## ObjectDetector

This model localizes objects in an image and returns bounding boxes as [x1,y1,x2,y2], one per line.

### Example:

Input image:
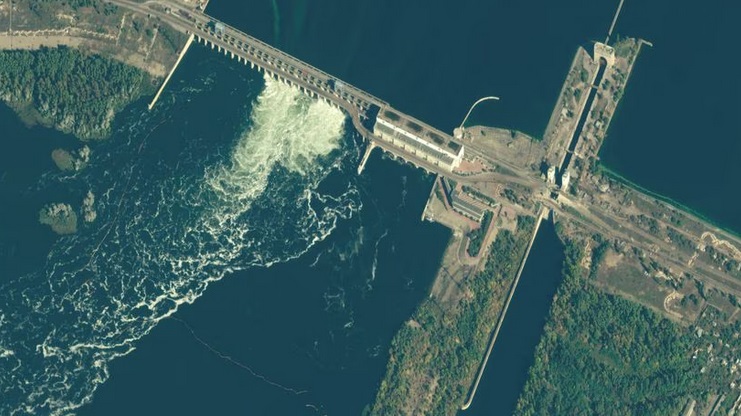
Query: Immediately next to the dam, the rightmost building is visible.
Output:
[365,106,470,182]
